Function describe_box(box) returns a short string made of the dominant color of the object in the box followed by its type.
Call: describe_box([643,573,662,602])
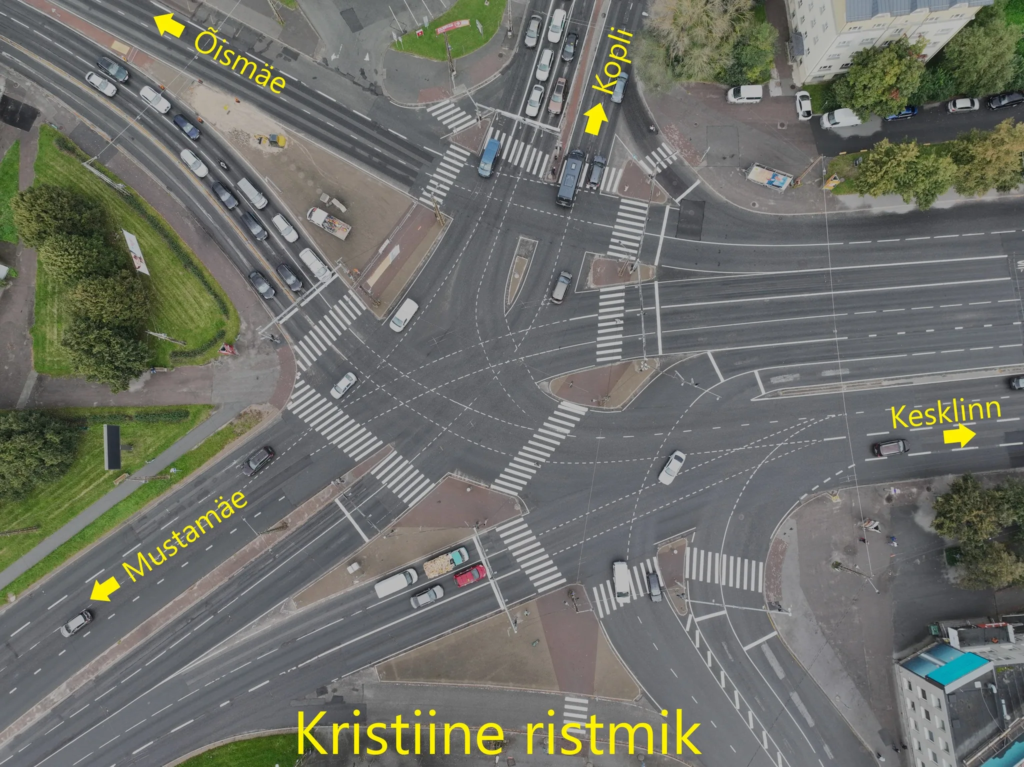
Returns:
gray car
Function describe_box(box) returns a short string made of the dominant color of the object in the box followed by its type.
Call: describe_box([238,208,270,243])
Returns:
gray car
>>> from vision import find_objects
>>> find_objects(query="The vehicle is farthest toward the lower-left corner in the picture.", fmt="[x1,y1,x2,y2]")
[59,608,95,639]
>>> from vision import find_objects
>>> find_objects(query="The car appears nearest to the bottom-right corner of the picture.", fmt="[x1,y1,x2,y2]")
[874,439,909,456]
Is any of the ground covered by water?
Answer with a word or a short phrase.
No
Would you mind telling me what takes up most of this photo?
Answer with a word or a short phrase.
paved ground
